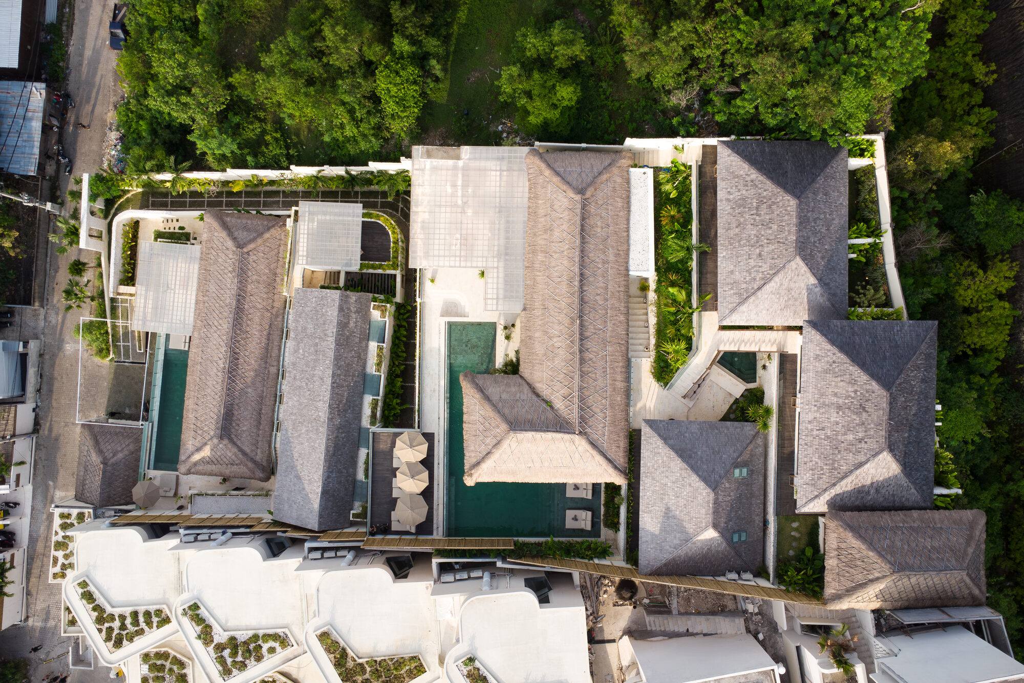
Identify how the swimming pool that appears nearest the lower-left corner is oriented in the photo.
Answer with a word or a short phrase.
vertically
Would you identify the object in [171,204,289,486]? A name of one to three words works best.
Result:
house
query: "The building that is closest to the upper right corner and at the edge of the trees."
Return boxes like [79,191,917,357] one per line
[716,140,849,327]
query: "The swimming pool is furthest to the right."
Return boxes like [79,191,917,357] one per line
[722,354,756,383]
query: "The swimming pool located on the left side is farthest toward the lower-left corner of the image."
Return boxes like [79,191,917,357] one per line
[150,335,189,469]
